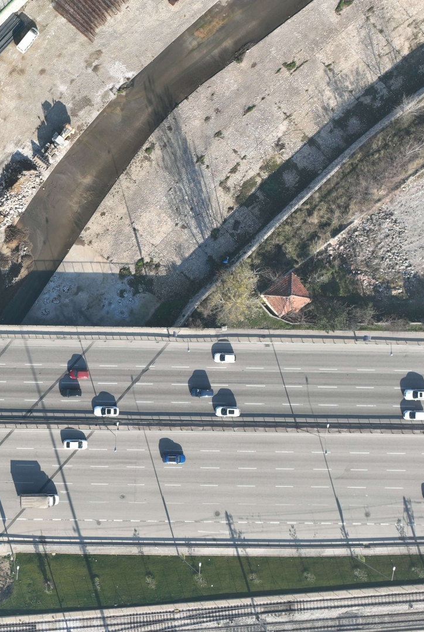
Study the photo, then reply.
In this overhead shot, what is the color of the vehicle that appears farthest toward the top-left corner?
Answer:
white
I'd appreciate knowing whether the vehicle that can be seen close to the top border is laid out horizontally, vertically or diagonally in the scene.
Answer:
diagonally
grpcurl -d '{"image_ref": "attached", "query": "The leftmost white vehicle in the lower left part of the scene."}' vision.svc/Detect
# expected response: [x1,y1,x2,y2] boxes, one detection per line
[16,494,58,510]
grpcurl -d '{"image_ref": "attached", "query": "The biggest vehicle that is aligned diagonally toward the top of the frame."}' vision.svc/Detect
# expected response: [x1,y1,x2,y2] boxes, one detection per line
[35,127,71,168]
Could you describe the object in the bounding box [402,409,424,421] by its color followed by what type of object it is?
white vehicle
